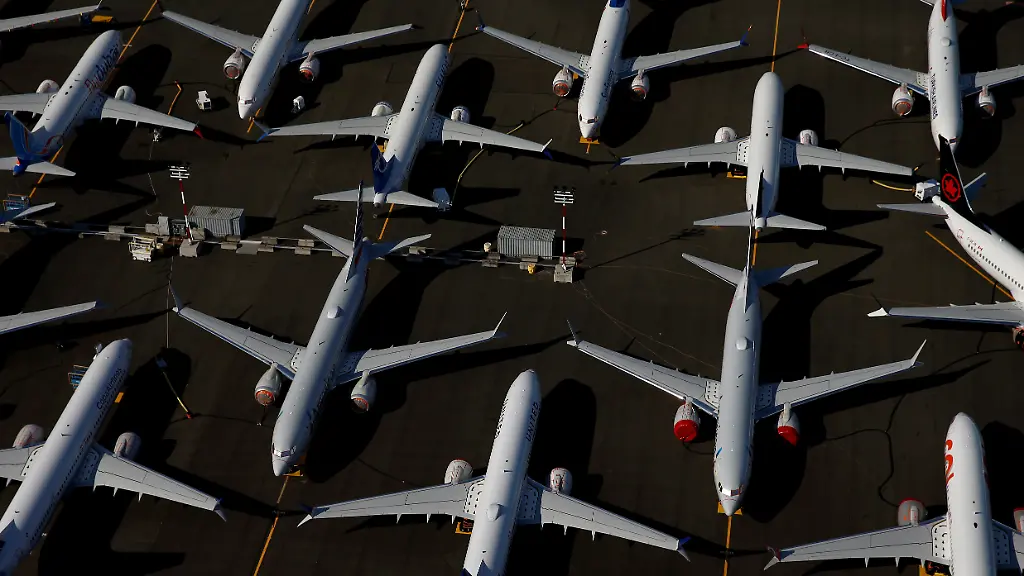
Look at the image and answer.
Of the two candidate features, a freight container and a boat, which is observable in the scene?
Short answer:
freight container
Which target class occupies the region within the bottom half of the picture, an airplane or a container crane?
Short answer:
airplane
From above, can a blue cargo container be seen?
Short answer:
No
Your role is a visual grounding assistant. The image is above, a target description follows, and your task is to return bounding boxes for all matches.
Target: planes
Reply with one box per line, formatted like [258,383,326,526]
[0,0,110,56]
[255,44,553,208]
[297,372,690,576]
[170,177,507,477]
[0,341,224,576]
[158,0,423,119]
[768,414,1024,576]
[0,31,199,177]
[567,205,925,517]
[608,73,923,232]
[801,0,1024,156]
[868,136,1024,352]
[475,0,752,139]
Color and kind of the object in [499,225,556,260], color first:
gray shipping container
